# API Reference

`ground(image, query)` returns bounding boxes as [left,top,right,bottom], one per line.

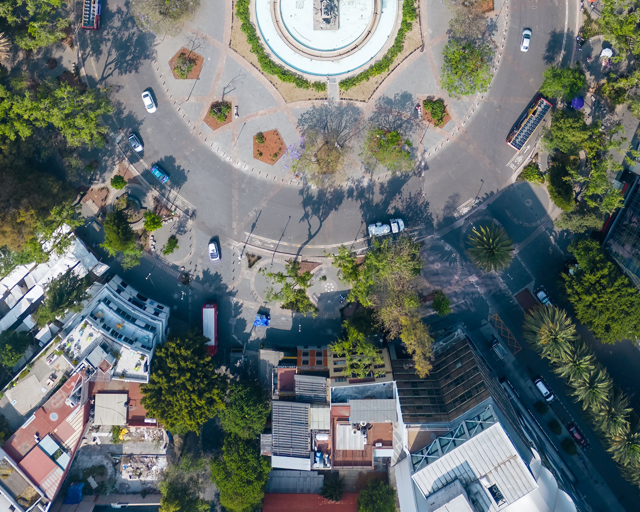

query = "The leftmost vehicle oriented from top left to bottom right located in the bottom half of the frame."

[491,339,508,363]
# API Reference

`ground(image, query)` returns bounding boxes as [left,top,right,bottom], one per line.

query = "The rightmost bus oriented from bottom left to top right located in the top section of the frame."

[501,94,552,151]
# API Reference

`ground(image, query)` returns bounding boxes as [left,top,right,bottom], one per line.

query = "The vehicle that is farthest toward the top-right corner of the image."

[520,27,533,52]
